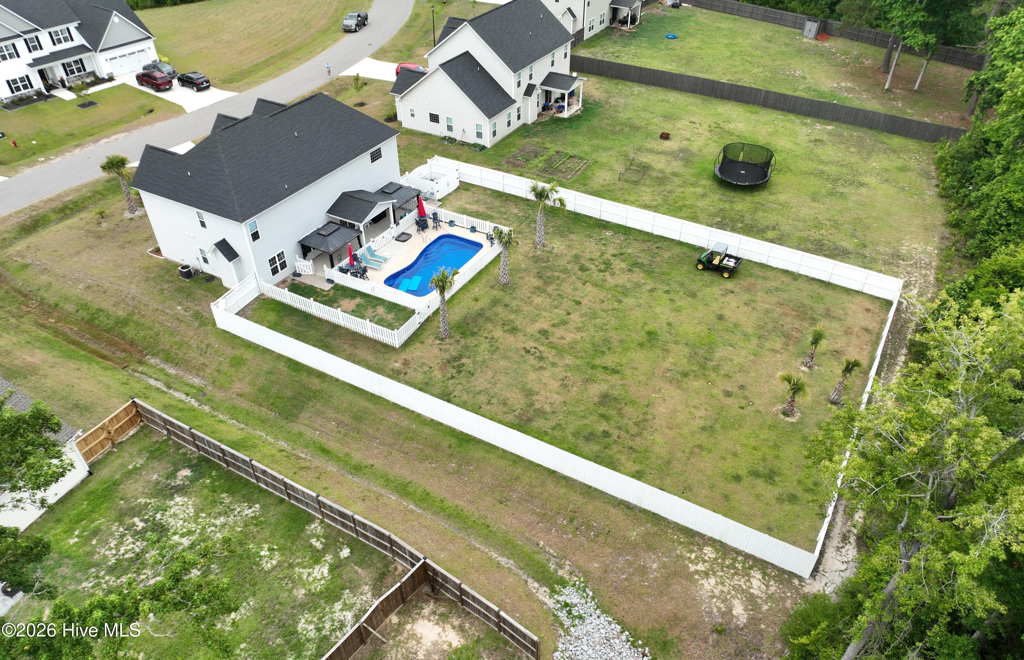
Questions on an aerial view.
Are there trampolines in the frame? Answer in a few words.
Yes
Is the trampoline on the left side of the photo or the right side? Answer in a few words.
right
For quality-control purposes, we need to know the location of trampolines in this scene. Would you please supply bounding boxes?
[716,145,770,193]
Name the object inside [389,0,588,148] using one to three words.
house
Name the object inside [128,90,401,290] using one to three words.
house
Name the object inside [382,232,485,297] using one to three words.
swimming pool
